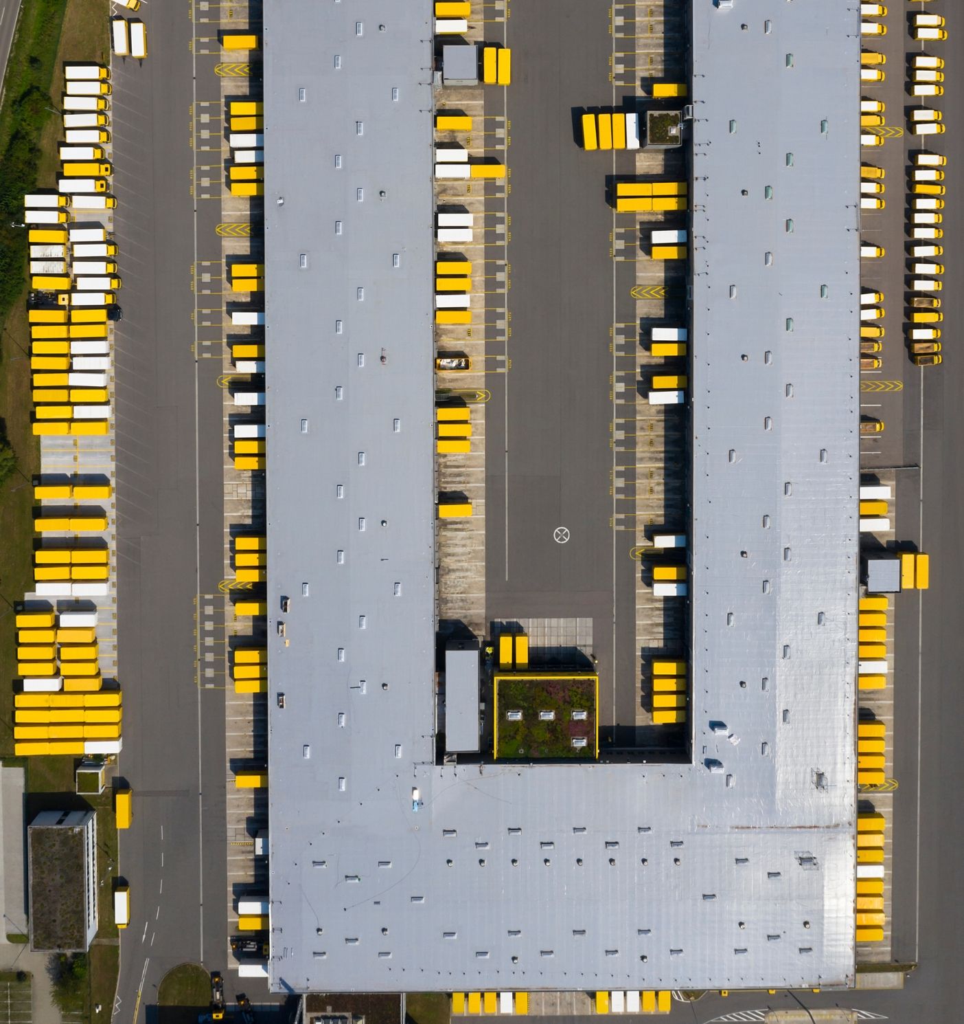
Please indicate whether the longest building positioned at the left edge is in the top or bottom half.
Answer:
bottom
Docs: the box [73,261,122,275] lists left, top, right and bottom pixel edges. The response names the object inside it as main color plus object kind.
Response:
white vehicle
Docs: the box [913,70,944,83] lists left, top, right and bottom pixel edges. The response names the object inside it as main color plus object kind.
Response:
white vehicle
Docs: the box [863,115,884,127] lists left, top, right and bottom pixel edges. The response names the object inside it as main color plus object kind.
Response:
yellow vehicle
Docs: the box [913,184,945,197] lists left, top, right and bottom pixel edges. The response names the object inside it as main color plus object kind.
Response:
yellow vehicle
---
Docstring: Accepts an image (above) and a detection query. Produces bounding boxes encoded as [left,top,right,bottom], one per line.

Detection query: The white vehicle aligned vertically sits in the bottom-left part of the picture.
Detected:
[115,884,130,931]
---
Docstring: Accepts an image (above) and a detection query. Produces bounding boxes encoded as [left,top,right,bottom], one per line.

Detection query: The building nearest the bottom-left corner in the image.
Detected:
[27,811,98,953]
